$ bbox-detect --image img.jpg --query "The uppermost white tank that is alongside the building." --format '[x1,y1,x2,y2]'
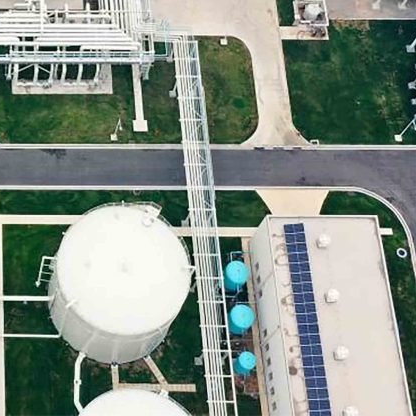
[42,204,200,367]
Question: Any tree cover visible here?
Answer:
No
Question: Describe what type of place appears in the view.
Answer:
industrial area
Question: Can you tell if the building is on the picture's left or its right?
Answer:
right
